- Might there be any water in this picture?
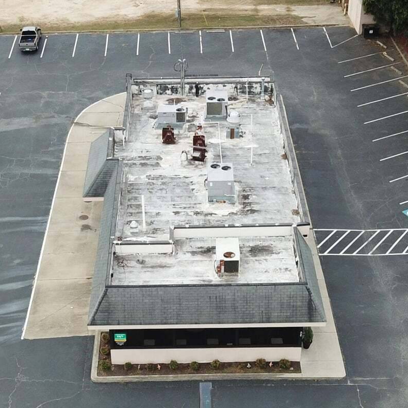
No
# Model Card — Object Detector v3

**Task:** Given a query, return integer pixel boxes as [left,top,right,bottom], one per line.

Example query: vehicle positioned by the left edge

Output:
[17,21,47,47]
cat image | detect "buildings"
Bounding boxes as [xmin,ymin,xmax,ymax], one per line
[82,57,327,364]
[348,0,377,34]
